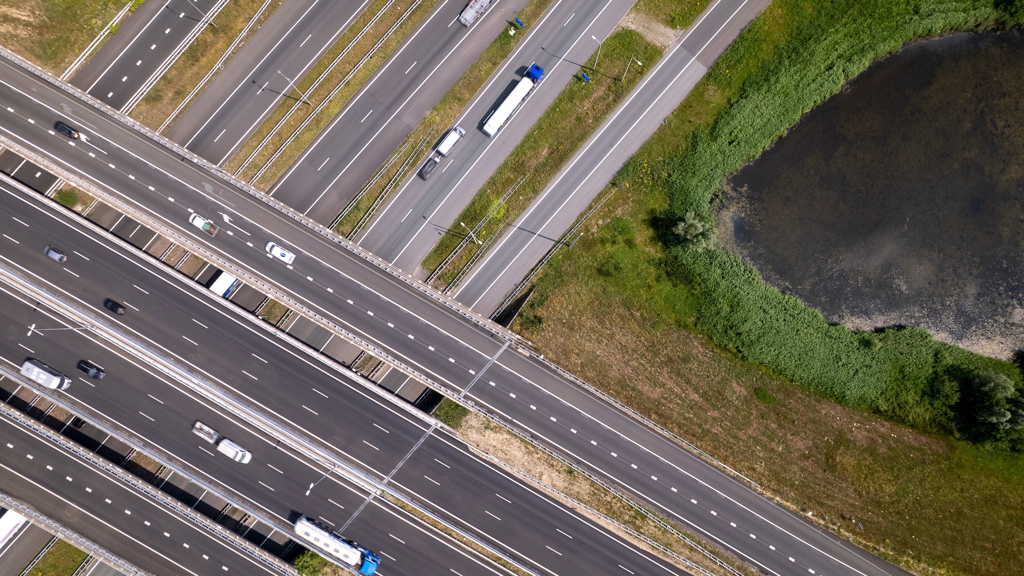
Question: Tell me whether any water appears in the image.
Yes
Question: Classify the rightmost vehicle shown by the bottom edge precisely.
truck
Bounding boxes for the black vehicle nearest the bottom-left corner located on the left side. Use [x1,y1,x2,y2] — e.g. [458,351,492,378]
[73,419,88,431]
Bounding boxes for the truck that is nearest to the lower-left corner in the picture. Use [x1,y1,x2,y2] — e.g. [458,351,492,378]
[0,512,25,549]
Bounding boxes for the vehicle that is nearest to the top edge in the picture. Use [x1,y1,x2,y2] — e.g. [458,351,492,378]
[459,0,497,31]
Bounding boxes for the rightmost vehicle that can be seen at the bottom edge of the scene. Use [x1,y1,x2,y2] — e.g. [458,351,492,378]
[297,514,379,574]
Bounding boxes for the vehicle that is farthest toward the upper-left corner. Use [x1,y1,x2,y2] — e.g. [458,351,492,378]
[54,121,81,141]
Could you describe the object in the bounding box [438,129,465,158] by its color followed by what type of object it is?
white vehicle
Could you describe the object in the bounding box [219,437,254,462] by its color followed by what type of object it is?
white vehicle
